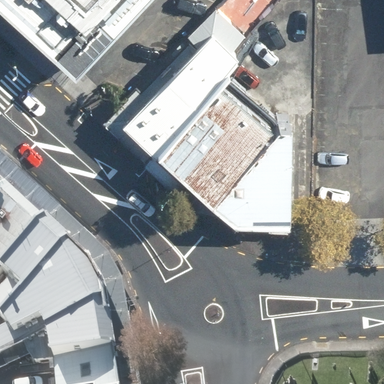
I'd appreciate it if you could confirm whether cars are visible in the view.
Yes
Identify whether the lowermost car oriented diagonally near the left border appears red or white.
red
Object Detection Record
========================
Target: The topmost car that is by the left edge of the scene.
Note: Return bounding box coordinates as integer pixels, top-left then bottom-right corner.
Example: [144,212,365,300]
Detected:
[18,89,48,117]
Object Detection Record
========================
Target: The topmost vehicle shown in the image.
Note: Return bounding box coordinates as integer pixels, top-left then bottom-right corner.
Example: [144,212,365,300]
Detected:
[174,0,210,18]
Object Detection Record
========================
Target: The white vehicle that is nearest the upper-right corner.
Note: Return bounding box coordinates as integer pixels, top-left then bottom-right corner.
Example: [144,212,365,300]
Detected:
[252,41,280,68]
